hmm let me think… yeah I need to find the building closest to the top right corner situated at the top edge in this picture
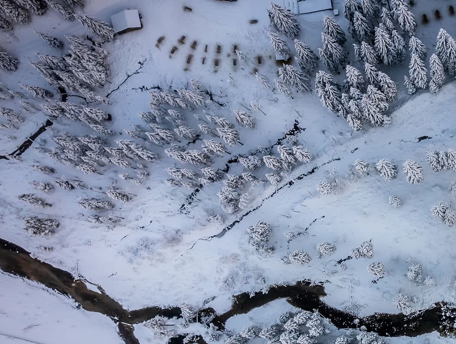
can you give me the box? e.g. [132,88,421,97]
[298,0,332,15]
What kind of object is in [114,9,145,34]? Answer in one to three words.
shed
